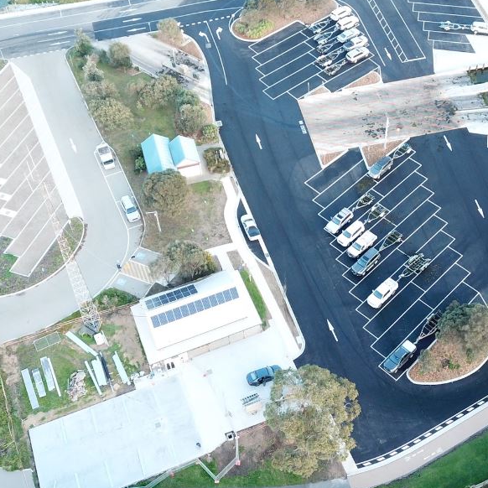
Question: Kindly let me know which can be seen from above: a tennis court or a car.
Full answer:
There is a car in the scene.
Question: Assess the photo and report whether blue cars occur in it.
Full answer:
Yes, the image includes a blue car.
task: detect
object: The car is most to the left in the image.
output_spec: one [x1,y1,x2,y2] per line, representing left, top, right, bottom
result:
[98,144,116,170]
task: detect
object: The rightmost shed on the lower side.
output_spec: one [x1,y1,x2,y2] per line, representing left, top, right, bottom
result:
[131,269,262,370]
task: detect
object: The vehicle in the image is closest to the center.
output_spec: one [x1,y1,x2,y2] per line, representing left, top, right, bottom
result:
[241,216,260,242]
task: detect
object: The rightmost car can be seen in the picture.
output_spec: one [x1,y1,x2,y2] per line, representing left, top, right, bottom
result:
[469,22,488,36]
